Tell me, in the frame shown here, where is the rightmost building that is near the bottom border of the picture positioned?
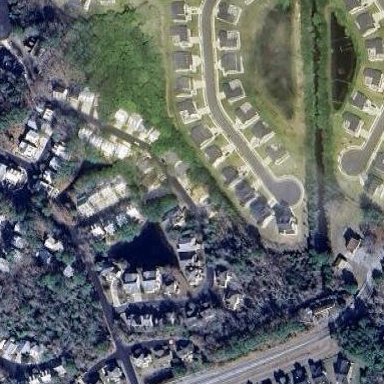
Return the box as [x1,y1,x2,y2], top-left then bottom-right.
[334,363,351,384]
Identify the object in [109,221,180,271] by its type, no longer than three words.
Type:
pond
